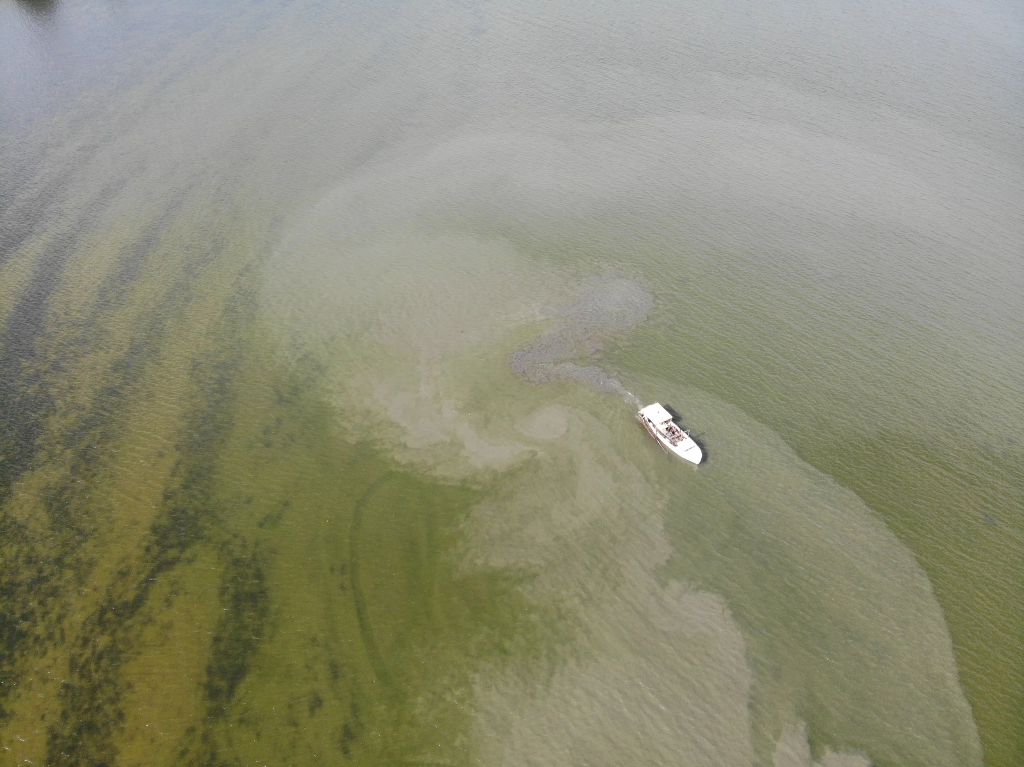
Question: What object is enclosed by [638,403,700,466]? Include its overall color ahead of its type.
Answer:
white boat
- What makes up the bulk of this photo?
water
